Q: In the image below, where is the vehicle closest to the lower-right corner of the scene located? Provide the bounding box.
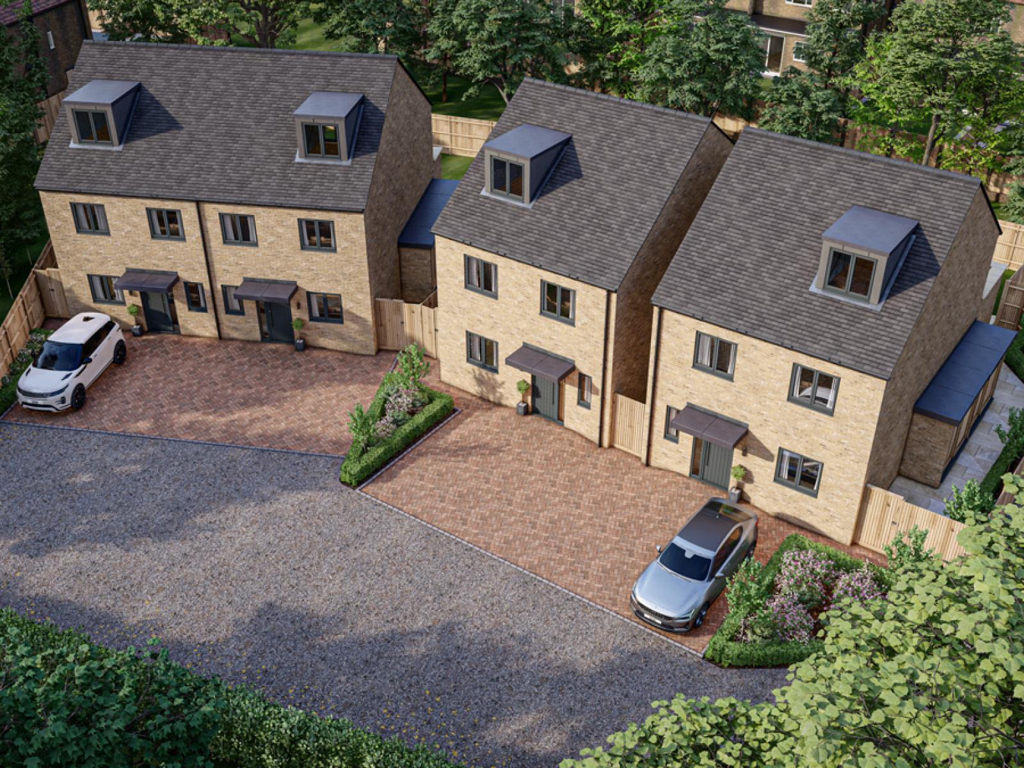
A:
[632,494,766,637]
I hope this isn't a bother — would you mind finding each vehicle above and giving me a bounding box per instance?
[6,310,130,413]
[632,494,766,637]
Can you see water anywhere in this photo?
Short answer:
No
